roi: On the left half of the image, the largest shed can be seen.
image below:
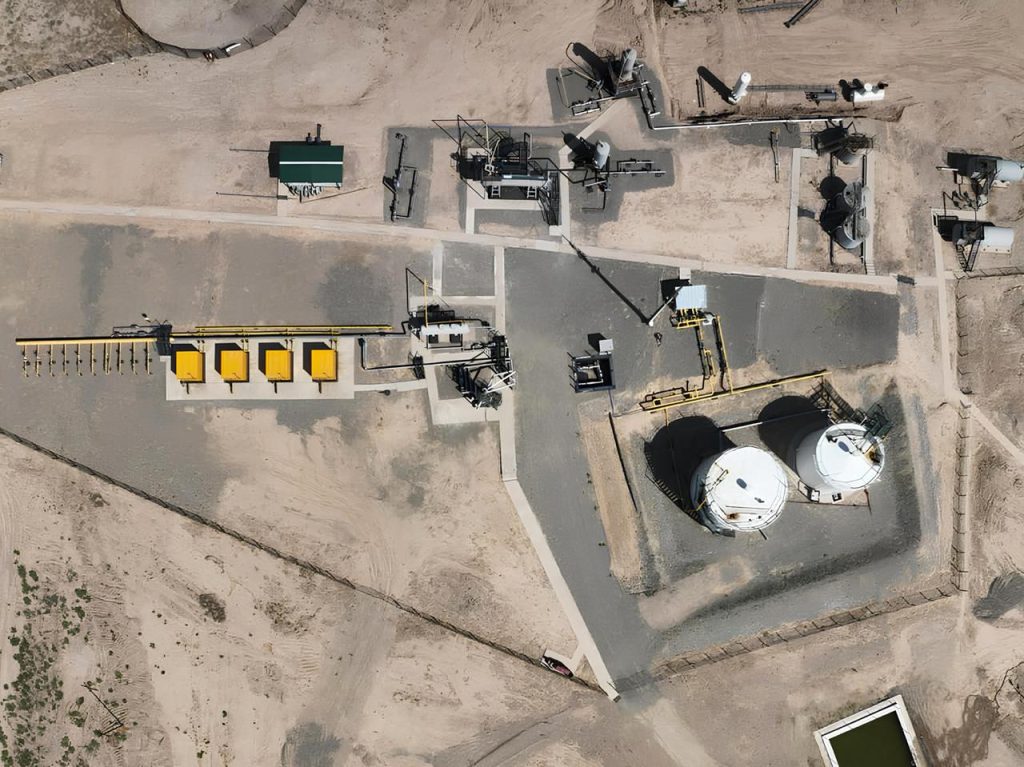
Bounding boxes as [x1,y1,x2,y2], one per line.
[279,146,345,192]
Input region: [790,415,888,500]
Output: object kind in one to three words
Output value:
storage tank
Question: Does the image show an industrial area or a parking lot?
industrial area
